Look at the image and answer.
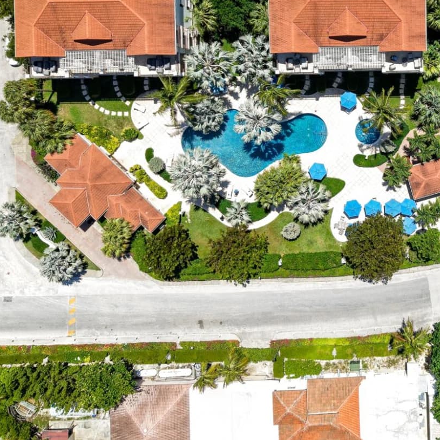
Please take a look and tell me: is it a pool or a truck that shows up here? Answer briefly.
pool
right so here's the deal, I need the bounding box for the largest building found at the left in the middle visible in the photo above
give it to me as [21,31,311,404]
[43,127,166,233]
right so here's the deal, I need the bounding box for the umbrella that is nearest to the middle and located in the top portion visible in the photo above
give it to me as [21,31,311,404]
[309,162,328,181]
